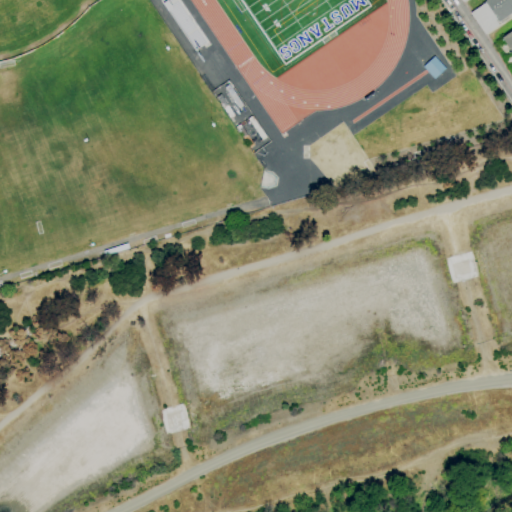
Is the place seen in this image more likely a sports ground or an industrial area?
sports ground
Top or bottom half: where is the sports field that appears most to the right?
top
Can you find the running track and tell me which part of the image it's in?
top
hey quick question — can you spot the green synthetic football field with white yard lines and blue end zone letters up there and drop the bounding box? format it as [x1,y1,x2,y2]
[215,0,390,78]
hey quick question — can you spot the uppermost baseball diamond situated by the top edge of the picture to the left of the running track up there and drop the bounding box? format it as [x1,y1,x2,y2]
[0,0,98,61]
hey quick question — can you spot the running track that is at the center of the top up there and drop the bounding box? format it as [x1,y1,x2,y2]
[190,0,411,136]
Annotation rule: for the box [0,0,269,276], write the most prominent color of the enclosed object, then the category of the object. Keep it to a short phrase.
green sports field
